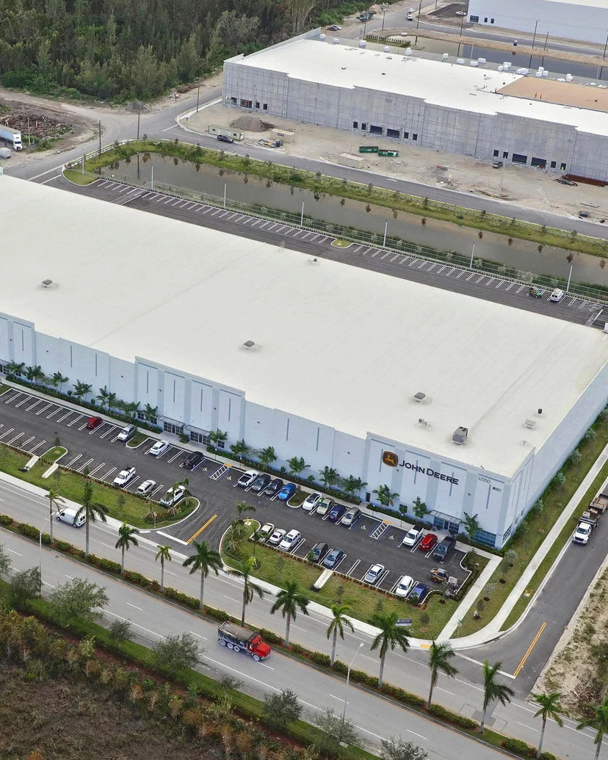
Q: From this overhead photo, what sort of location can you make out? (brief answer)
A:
industrial area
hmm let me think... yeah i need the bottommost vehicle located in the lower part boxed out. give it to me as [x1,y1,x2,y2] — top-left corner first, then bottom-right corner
[216,612,273,656]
